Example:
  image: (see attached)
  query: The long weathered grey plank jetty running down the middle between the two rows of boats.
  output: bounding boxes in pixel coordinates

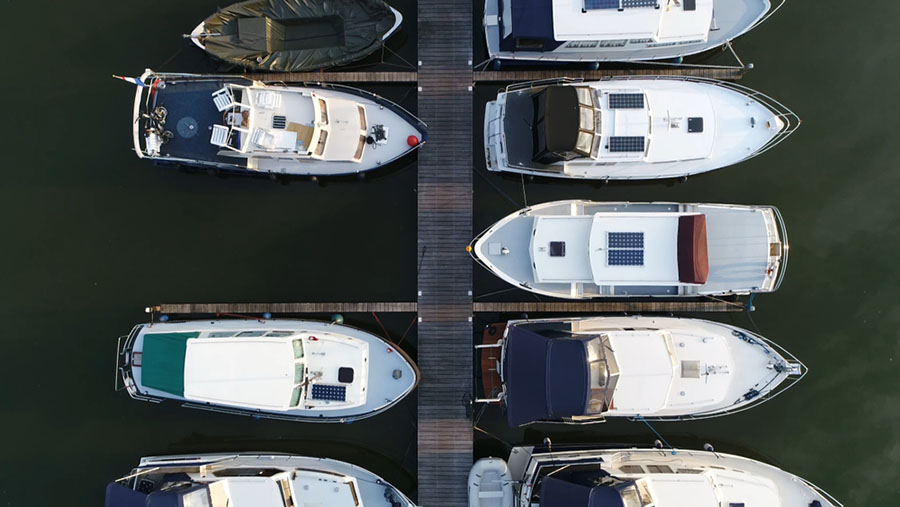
[415,0,476,507]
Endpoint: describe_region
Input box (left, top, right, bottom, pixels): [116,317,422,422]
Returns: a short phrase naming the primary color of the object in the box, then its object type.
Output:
white boat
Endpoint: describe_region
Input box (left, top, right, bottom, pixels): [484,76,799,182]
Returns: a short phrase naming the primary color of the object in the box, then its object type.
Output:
white boat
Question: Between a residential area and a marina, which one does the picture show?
marina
